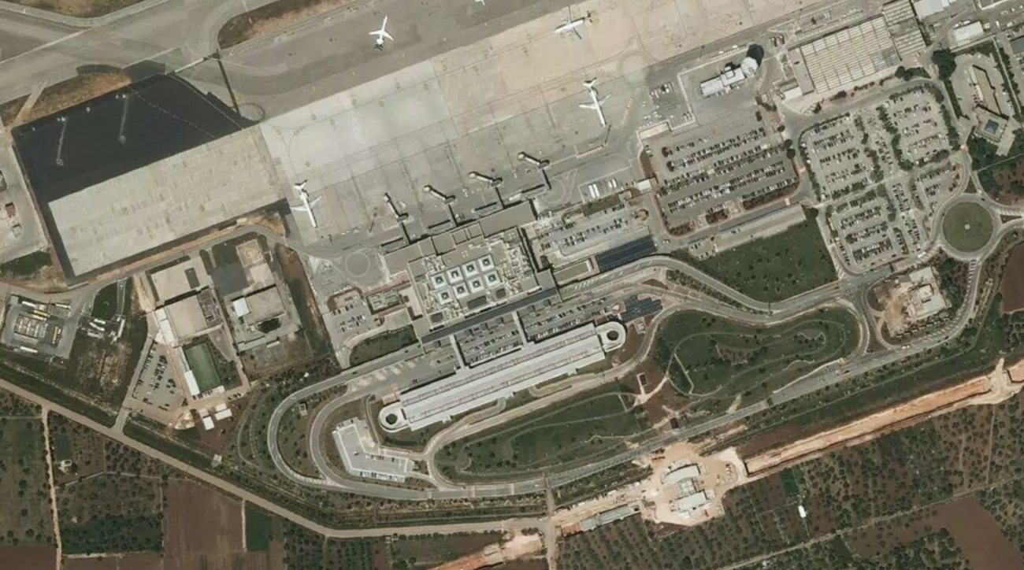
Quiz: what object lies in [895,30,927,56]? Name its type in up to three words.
shed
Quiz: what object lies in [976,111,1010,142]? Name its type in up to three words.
building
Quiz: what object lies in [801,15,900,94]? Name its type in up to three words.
shed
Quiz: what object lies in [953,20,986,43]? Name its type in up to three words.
building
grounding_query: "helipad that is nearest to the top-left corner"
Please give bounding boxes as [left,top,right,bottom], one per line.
[236,240,263,266]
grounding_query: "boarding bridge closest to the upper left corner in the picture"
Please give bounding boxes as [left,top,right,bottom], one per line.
[383,193,411,244]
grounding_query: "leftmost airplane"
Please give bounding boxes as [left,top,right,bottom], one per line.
[289,179,322,227]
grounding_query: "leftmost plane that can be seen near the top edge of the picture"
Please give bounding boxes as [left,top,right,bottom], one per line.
[369,16,394,47]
